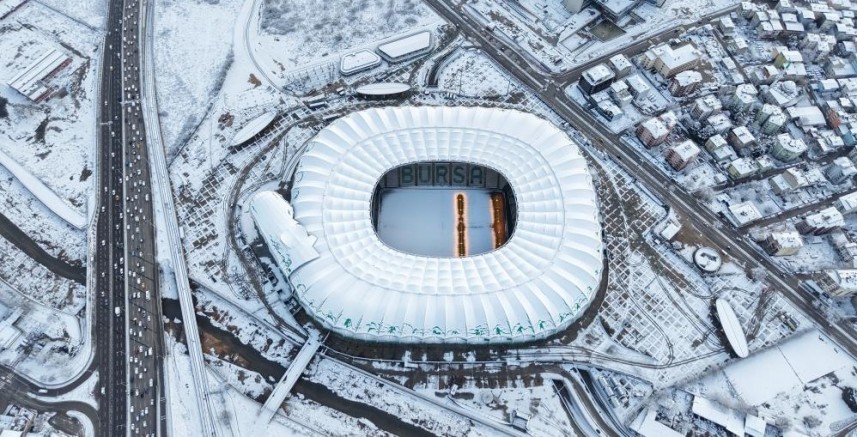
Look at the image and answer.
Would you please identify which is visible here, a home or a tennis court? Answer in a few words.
home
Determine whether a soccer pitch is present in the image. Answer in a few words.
Yes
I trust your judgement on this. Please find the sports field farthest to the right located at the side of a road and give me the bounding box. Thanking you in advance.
[781,330,843,382]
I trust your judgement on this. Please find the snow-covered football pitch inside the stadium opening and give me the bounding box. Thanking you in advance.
[380,189,511,257]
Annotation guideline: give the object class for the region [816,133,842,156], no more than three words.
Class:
house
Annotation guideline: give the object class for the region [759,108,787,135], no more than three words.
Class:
building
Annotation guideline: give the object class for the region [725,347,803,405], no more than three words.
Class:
sports field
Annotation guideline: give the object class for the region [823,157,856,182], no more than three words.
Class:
building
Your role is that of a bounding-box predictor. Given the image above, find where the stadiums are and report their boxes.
[255,111,603,345]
